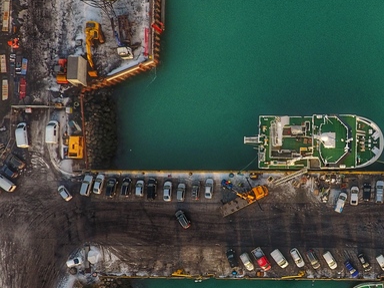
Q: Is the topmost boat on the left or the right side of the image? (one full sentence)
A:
It is on the right.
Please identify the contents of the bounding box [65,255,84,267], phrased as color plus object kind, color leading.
white vehicle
